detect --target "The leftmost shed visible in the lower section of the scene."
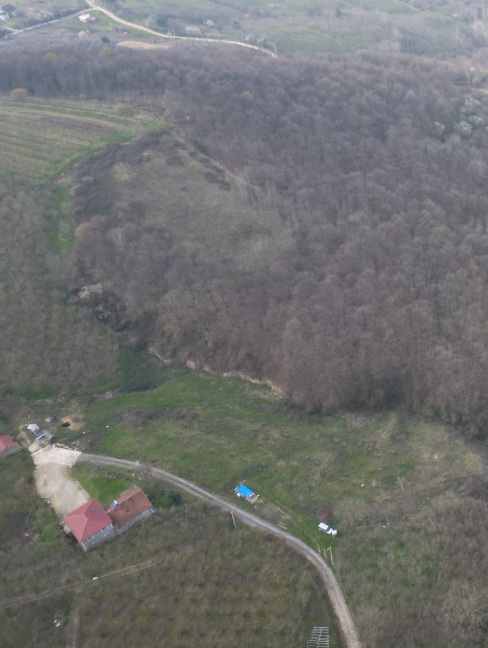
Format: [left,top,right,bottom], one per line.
[0,435,21,461]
